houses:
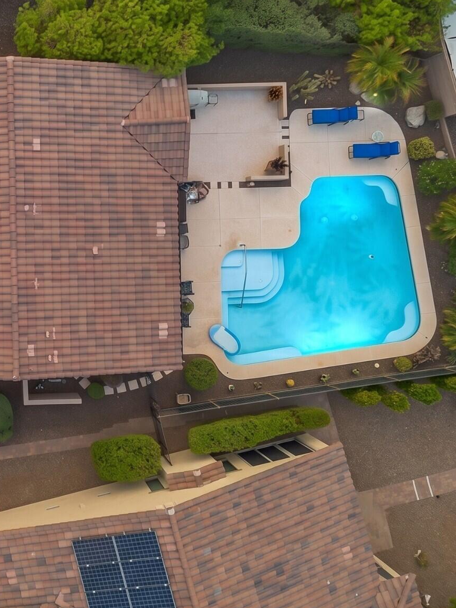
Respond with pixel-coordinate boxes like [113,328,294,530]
[0,54,192,385]
[0,431,433,608]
